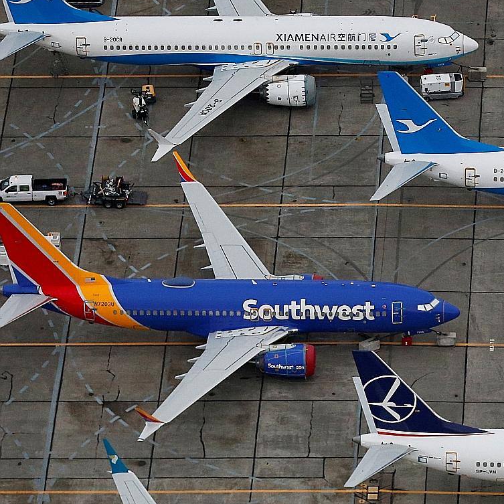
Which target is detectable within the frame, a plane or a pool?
plane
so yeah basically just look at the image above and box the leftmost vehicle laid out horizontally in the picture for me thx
[0,171,76,203]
